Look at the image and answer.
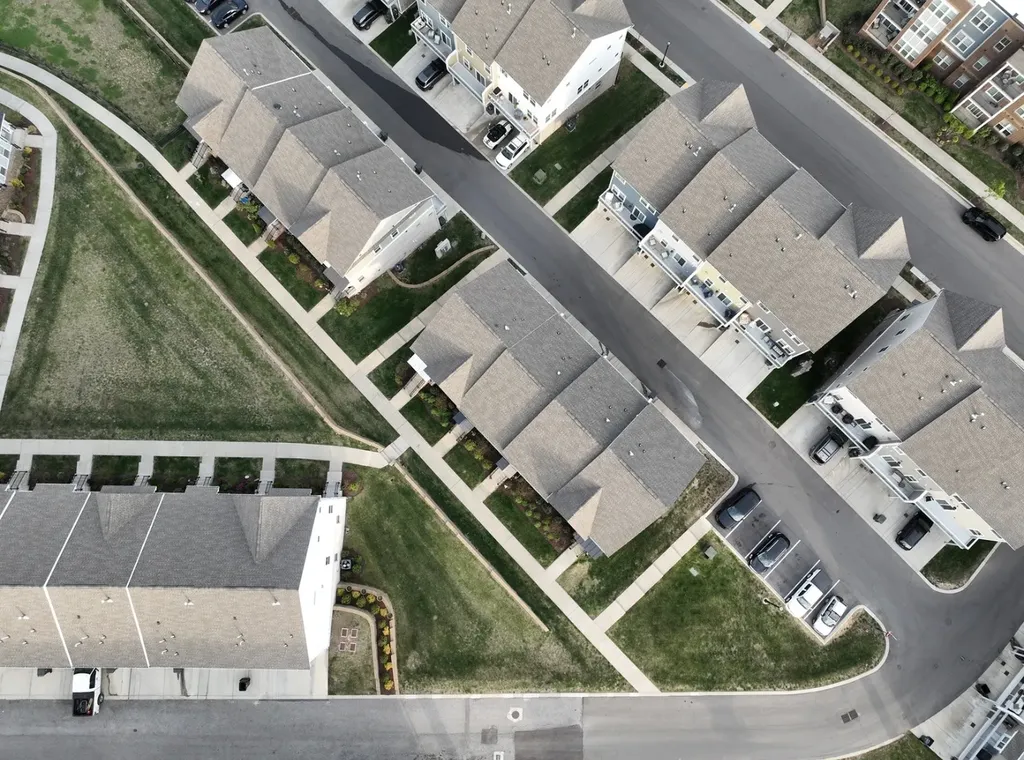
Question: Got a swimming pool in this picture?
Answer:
No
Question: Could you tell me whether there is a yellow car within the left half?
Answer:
No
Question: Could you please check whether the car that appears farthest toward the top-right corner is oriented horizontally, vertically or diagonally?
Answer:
diagonally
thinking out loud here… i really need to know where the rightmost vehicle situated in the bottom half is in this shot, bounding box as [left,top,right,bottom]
[899,513,940,554]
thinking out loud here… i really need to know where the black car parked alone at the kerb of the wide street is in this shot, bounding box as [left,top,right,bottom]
[963,205,1012,247]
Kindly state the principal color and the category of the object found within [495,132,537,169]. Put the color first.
white car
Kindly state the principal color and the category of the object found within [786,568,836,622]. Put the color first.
white truck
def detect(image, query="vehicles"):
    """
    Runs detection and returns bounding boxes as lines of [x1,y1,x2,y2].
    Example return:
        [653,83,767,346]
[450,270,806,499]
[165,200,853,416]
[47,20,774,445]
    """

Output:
[812,596,854,641]
[206,0,248,28]
[786,568,836,622]
[412,53,449,88]
[963,205,1012,247]
[71,668,103,719]
[749,531,795,577]
[495,132,537,169]
[811,425,853,467]
[717,486,761,532]
[480,114,512,146]
[899,513,940,554]
[349,0,388,25]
